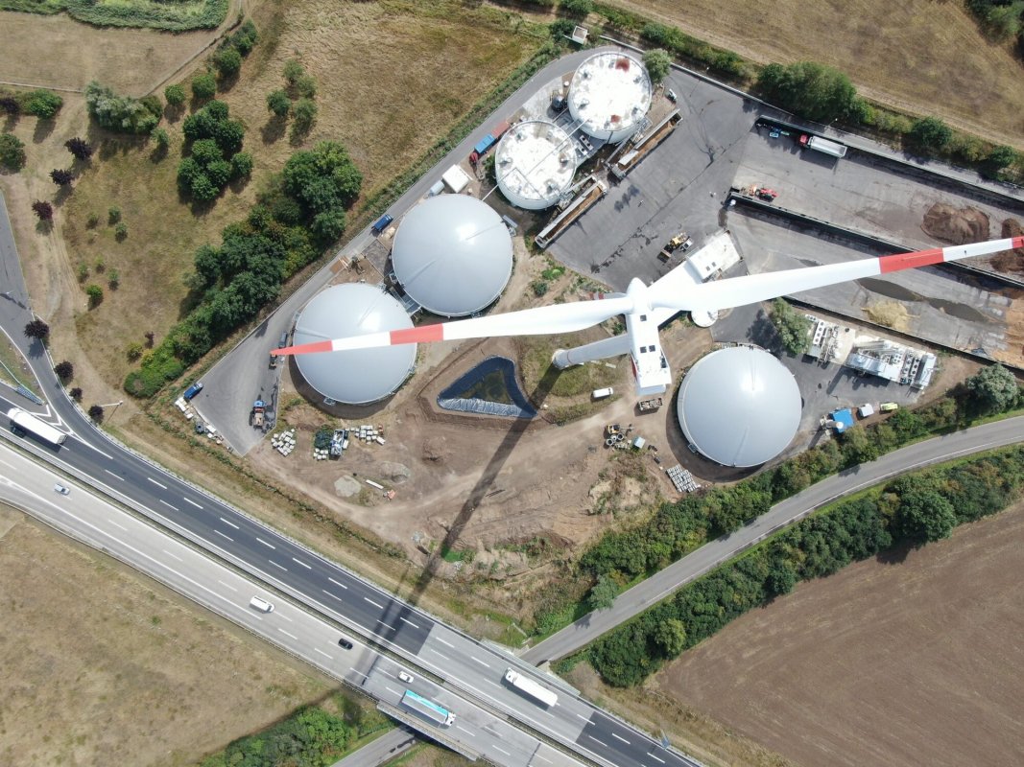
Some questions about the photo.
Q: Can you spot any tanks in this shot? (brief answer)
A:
Yes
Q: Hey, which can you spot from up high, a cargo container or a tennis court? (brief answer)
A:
cargo container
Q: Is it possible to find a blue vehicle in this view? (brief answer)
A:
Yes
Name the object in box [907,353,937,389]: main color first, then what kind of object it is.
white shipping container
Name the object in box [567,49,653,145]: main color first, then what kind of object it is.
white storage tank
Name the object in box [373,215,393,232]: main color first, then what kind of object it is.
blue vehicle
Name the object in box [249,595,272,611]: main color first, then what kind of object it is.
white vehicle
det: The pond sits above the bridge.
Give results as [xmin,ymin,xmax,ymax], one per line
[437,355,538,418]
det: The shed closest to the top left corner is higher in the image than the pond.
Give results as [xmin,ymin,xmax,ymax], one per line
[442,163,473,193]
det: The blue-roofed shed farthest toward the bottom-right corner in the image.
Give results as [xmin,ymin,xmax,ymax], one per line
[828,407,856,433]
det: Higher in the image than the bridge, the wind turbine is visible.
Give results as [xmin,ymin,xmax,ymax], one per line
[275,237,1024,398]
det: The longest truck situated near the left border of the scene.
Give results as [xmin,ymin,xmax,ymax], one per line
[8,407,67,444]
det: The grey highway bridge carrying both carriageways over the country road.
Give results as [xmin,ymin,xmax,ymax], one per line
[363,627,600,767]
